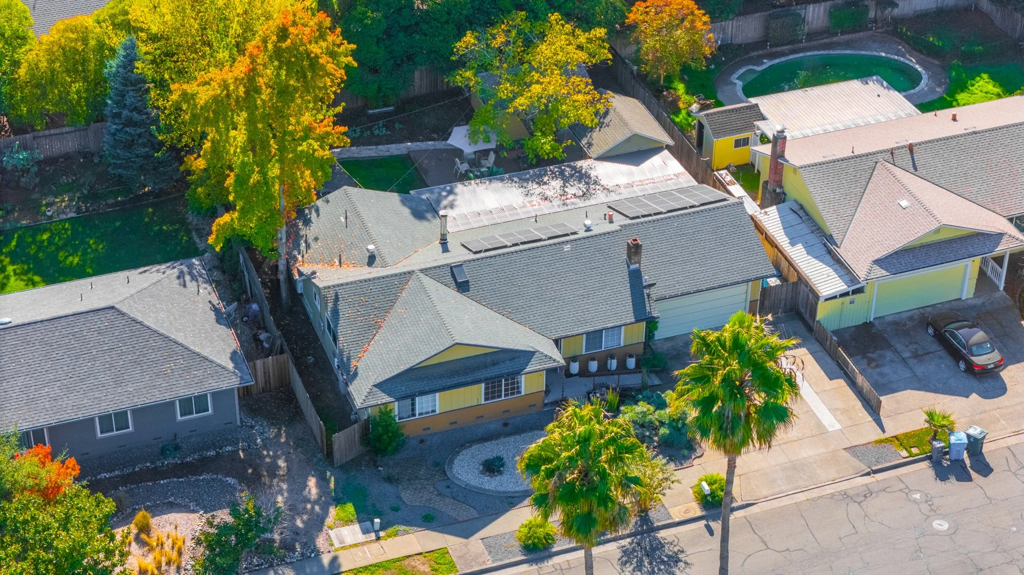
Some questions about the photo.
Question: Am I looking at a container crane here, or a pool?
pool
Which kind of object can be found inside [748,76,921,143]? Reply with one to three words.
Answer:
building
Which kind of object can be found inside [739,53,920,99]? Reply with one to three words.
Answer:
swimming pool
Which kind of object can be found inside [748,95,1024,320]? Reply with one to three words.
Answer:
house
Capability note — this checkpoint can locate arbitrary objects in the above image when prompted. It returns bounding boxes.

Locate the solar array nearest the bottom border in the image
[462,221,578,251]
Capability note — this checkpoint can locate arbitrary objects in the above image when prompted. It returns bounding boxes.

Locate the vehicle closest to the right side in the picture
[927,310,1007,376]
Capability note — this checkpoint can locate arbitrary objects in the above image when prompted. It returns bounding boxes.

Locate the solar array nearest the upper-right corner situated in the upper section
[605,184,731,216]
